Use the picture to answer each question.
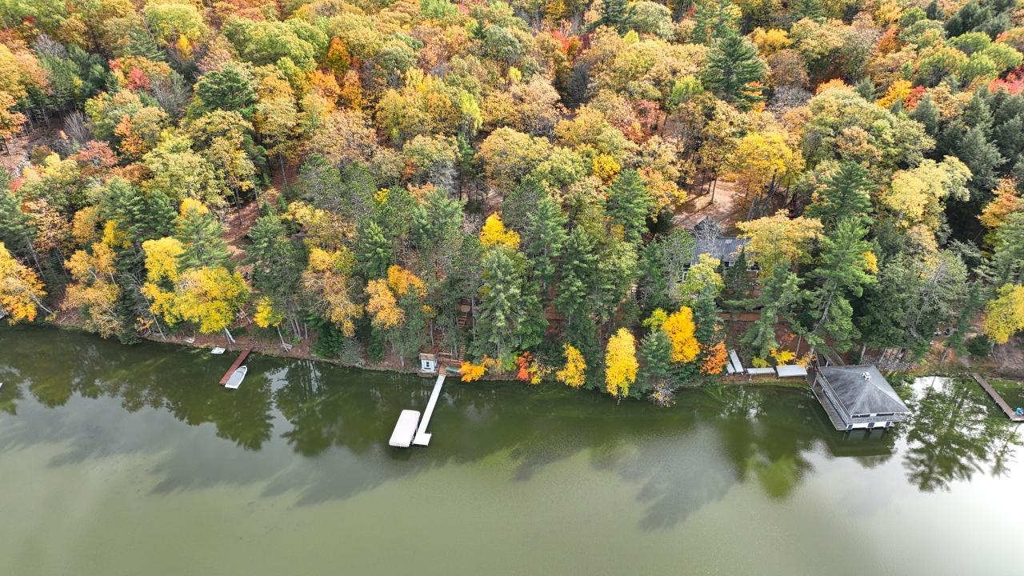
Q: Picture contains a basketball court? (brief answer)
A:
No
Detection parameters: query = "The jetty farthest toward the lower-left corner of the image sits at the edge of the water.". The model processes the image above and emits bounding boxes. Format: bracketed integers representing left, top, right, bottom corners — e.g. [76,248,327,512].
[219,334,262,387]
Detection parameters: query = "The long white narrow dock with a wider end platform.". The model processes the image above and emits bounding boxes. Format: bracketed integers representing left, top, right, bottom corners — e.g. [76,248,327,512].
[411,378,443,449]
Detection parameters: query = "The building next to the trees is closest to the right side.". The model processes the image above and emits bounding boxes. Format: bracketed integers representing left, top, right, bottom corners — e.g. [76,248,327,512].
[793,350,913,442]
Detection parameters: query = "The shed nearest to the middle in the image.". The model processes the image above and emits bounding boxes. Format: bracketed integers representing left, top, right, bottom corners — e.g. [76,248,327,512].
[414,347,436,375]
